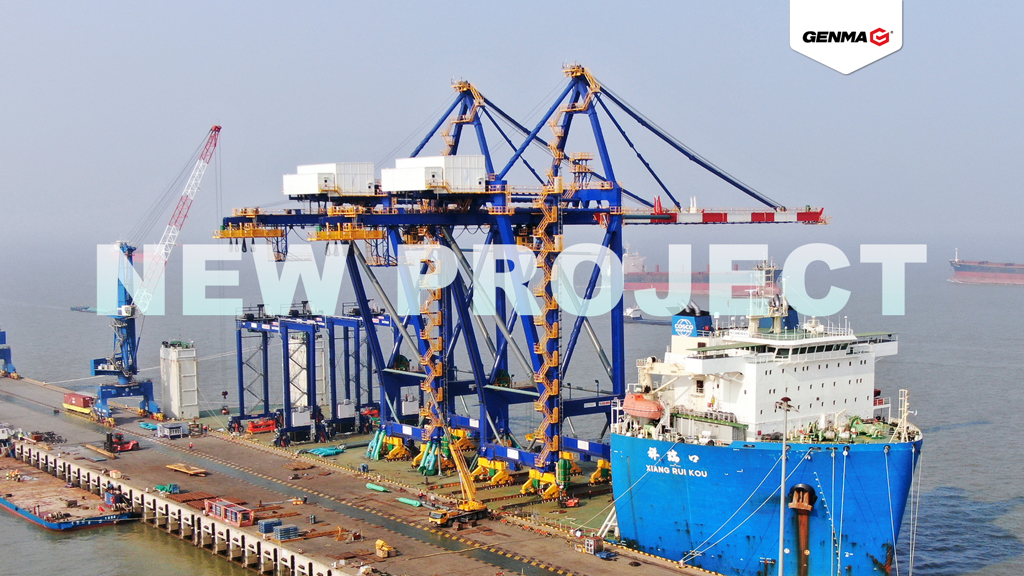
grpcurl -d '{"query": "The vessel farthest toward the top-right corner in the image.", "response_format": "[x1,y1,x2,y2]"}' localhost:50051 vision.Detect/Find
[933,237,1024,286]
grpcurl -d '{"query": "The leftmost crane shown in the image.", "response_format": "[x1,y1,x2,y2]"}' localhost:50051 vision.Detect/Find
[0,329,23,380]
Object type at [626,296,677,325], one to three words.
ship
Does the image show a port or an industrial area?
port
